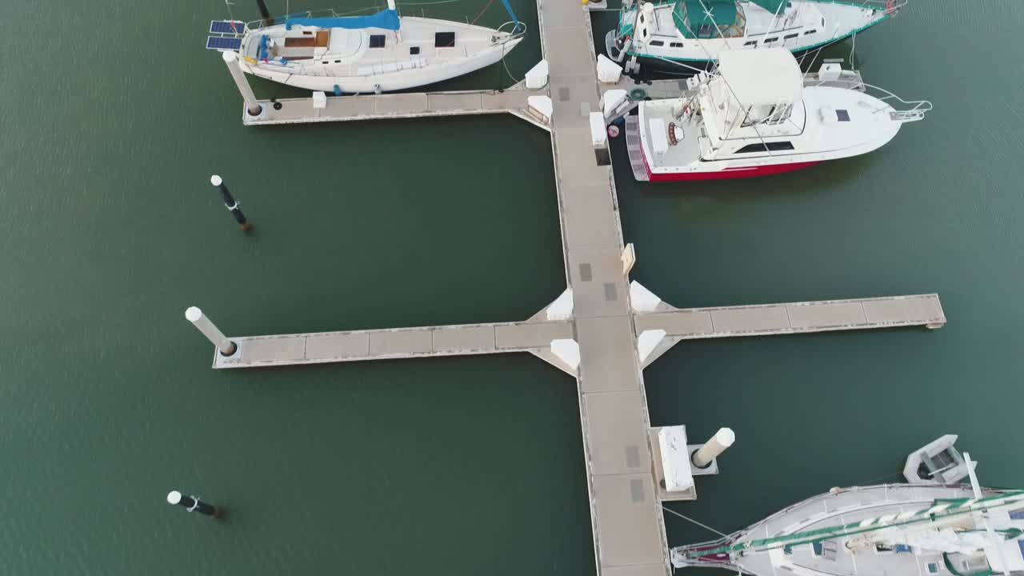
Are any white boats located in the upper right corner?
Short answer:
Yes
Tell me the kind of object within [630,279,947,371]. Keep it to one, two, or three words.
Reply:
pier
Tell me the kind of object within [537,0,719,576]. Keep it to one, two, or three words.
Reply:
pier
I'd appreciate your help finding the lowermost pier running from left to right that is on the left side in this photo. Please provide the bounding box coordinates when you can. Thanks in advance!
[212,294,576,382]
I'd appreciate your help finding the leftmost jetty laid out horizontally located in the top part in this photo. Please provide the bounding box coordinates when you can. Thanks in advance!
[242,67,550,134]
